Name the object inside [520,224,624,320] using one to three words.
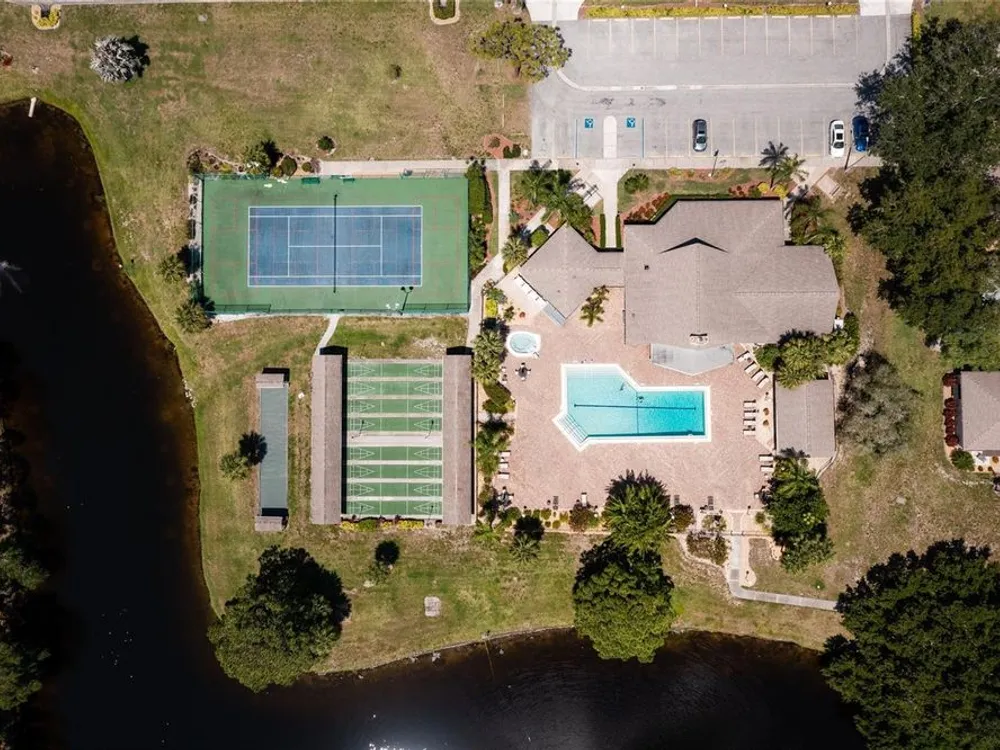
building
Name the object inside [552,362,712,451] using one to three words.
swimming pool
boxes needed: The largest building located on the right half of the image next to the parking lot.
[623,199,839,350]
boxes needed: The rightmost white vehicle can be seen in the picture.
[830,119,849,155]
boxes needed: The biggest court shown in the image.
[203,177,469,313]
